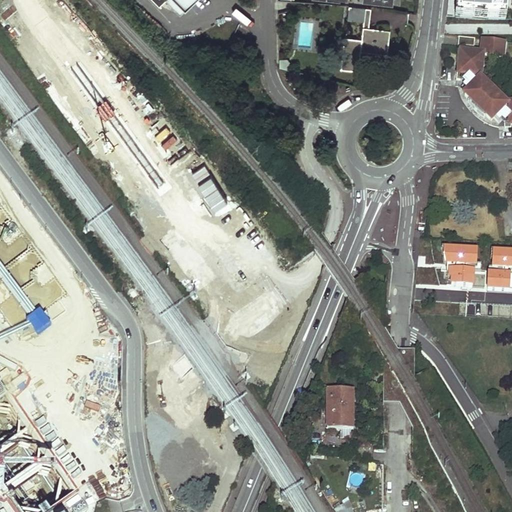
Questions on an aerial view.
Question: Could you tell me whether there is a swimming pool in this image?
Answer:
Yes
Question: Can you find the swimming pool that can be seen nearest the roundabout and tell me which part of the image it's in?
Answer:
top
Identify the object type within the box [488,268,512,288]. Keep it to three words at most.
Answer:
house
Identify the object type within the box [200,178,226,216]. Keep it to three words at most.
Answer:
building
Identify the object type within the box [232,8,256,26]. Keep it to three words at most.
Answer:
vehicle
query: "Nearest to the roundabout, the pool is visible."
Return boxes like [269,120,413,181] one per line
[292,19,318,53]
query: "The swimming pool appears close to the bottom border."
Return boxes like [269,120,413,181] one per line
[346,471,366,488]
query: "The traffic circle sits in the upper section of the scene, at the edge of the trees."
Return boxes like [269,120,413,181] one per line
[322,90,432,206]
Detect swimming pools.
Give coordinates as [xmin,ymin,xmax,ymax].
[292,19,318,53]
[346,471,366,488]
